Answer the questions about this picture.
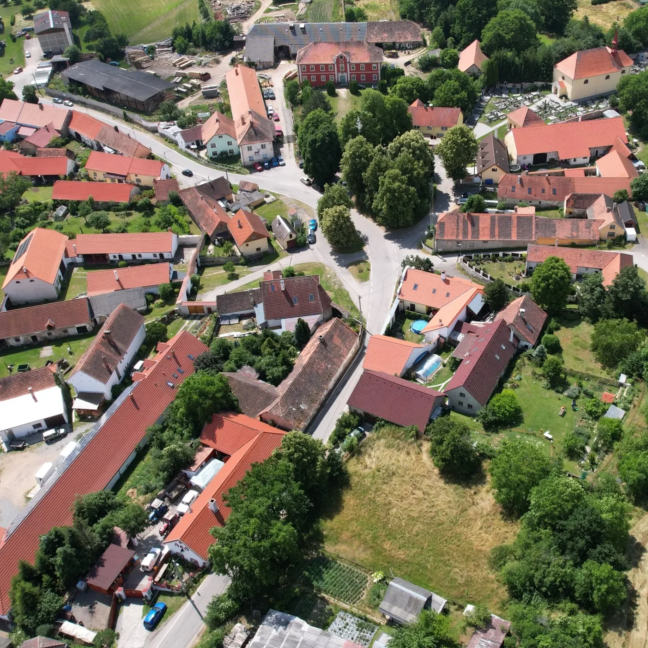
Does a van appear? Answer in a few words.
Yes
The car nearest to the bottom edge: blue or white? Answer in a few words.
blue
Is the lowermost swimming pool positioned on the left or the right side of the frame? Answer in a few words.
right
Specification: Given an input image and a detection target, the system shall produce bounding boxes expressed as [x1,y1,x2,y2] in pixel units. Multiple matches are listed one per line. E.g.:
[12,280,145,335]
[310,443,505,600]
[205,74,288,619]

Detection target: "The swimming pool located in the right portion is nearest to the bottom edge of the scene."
[417,356,449,380]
